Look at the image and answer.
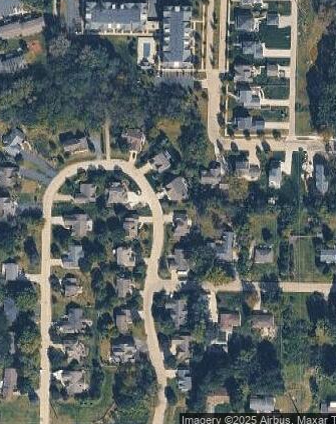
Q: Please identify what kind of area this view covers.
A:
residential area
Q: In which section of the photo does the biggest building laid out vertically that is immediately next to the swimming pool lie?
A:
top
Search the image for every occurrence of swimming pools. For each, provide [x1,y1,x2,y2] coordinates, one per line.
[138,36,155,64]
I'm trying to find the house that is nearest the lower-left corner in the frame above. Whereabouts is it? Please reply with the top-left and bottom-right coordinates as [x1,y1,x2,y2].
[2,367,19,400]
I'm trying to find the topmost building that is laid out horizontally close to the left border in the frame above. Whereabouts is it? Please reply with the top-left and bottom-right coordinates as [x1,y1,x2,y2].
[0,16,47,39]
